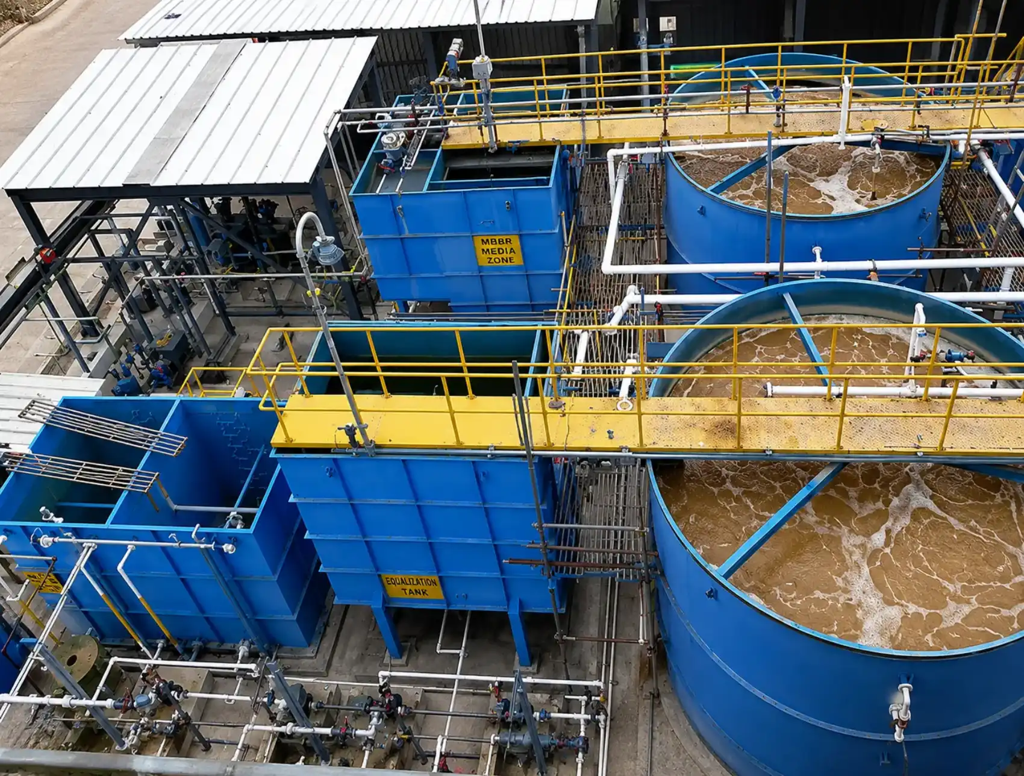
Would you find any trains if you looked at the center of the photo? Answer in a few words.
No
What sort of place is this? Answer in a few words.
industrial area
